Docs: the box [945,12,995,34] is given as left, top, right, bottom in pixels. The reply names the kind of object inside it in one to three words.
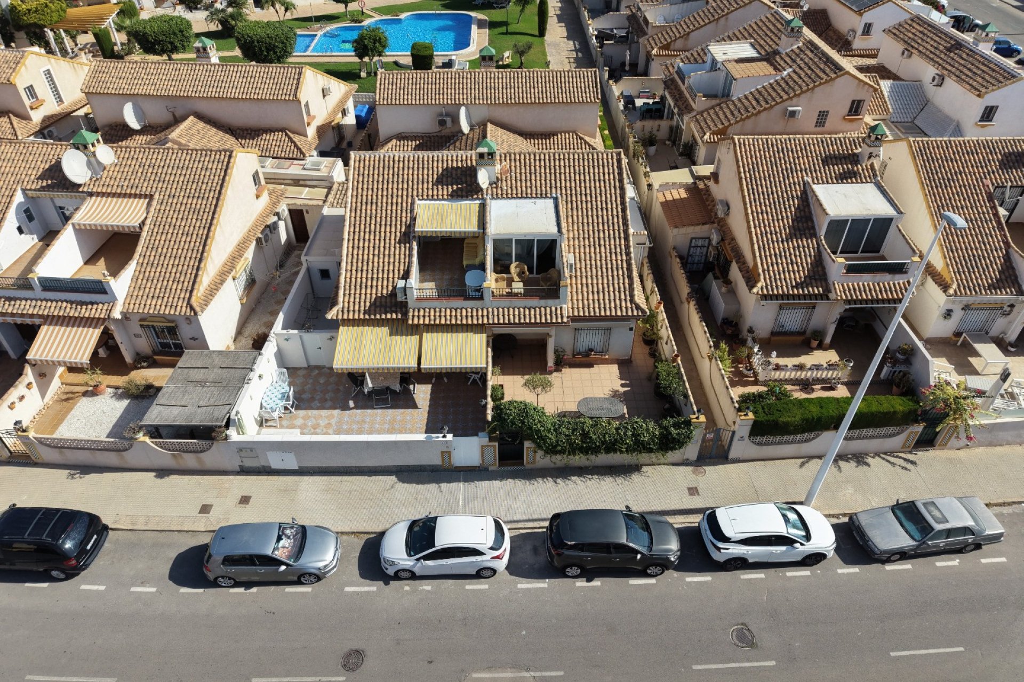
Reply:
car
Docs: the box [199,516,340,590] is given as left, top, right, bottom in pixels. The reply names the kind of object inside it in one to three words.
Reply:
car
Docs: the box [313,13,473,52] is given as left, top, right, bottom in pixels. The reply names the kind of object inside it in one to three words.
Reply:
swimming pool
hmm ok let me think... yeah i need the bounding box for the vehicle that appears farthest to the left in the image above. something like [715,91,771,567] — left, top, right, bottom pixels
[0,507,102,583]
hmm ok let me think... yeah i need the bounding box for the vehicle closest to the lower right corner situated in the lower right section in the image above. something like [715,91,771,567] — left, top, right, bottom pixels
[843,495,1004,565]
